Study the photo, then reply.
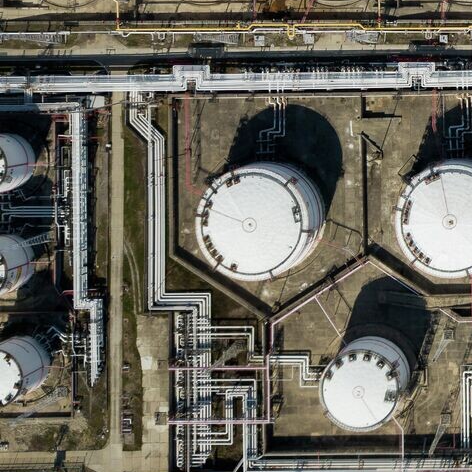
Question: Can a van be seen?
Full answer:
No, no van is visible in the view.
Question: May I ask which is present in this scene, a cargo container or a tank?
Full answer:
Visible in the photo is a tank.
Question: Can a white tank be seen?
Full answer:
Yes, a white tank is visible in the scene.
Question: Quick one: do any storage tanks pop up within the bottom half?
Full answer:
Yes, looking within the bottom half, one can make out a storage tank.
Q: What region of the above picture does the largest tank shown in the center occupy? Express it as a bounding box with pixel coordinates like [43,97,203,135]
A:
[194,156,330,283]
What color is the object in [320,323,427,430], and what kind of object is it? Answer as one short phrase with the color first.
white storage tank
